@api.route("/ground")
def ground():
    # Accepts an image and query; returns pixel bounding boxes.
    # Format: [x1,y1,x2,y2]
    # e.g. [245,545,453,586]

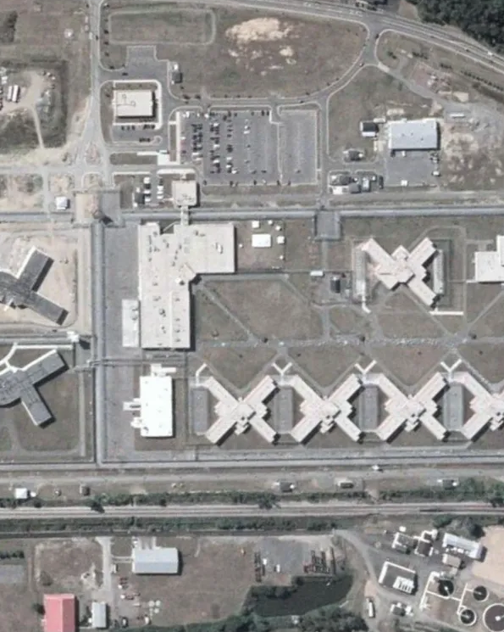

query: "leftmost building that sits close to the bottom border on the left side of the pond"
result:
[42,593,74,632]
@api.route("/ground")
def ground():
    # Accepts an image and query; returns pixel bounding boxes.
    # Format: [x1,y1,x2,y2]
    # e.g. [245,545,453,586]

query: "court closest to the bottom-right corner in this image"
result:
[445,384,463,430]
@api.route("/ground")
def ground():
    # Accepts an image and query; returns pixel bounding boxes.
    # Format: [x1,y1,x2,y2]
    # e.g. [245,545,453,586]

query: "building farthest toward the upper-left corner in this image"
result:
[114,89,153,116]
